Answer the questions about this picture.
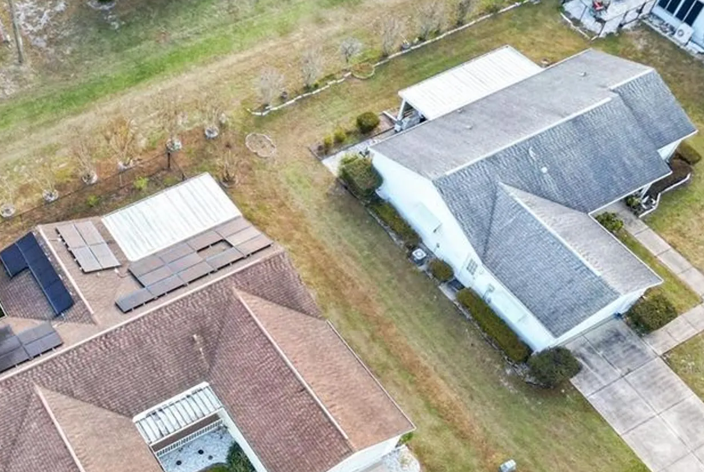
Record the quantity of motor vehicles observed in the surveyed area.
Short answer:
0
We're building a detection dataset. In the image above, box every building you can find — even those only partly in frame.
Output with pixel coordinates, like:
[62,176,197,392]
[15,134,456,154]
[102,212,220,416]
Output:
[0,174,414,472]
[372,46,700,350]
[657,0,704,47]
